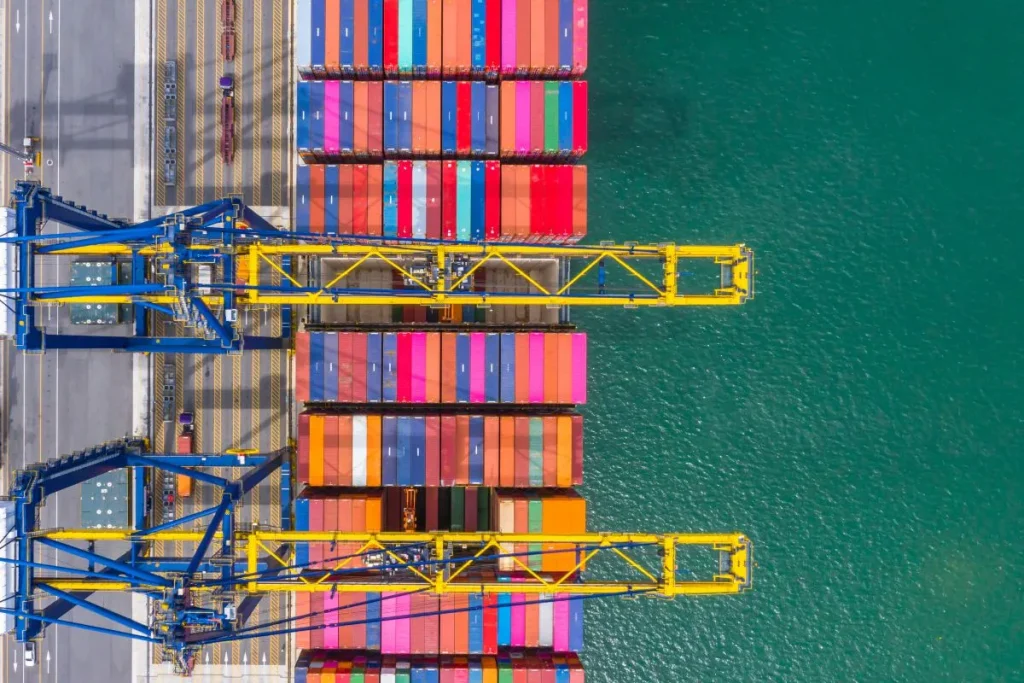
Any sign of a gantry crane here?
Yes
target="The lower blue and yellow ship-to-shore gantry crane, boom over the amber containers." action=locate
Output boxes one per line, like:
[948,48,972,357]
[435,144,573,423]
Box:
[0,427,758,682]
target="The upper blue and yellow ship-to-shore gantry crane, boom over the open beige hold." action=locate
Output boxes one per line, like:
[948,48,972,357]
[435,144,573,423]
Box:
[0,180,759,369]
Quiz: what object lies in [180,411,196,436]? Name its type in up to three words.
vehicle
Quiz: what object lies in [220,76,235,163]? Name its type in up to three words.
vehicle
